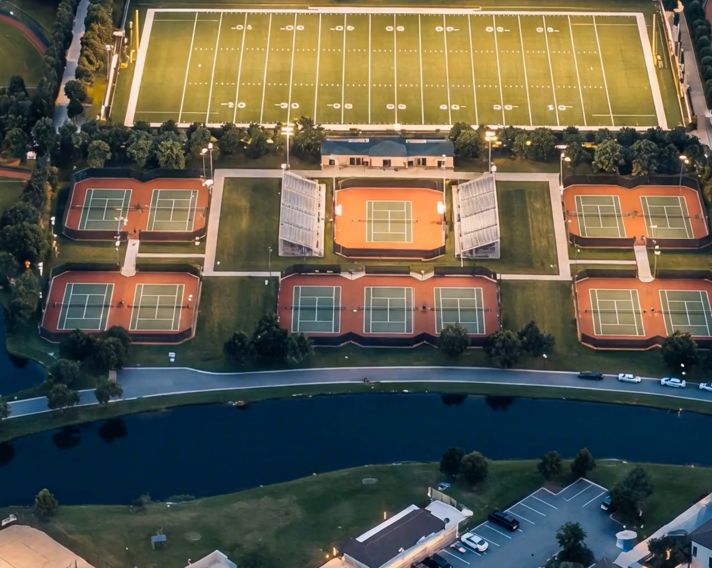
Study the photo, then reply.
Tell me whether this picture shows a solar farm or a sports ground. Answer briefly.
sports ground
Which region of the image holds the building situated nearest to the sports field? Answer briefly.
top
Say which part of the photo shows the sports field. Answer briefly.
top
